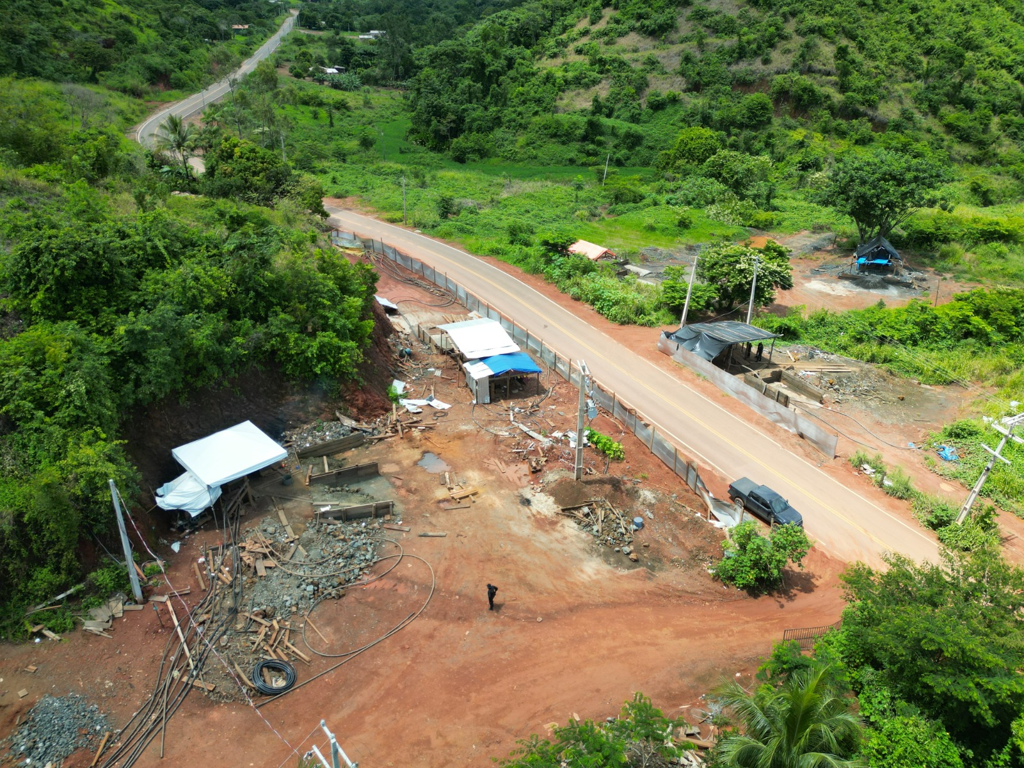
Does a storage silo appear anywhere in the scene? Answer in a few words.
No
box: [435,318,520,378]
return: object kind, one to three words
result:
shed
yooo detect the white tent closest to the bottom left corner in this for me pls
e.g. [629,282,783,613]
[171,420,291,516]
